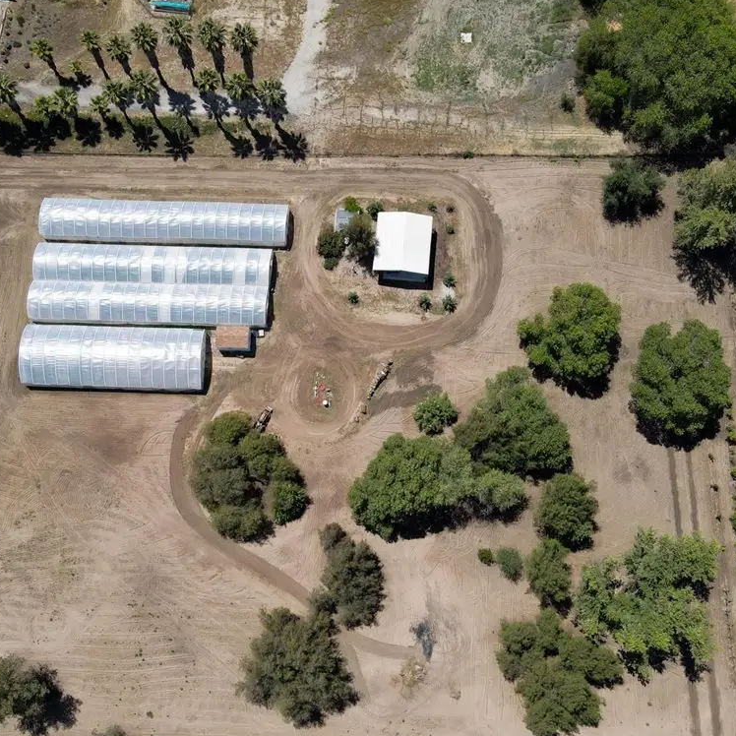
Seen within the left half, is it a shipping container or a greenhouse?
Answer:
greenhouse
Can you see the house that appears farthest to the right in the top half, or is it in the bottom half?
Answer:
top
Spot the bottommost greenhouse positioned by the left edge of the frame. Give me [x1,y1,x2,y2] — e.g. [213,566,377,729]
[16,328,208,392]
